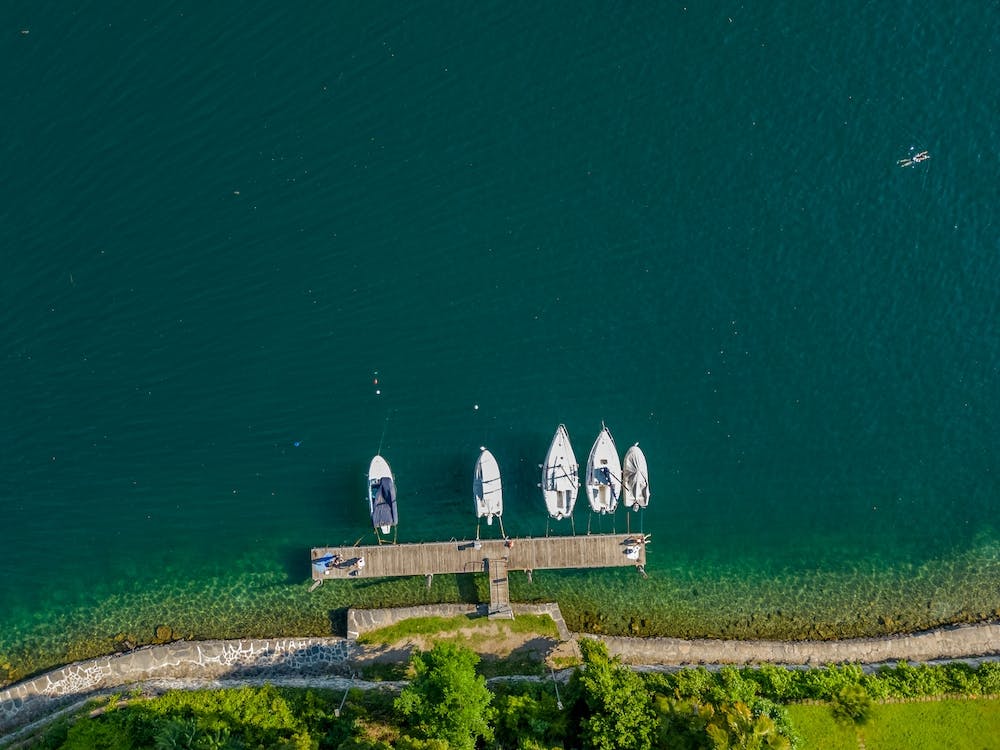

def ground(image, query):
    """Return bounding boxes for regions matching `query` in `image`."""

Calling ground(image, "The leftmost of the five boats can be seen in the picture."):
[365,456,400,537]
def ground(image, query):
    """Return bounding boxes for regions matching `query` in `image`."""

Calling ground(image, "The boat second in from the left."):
[473,444,501,525]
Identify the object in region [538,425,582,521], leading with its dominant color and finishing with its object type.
white boat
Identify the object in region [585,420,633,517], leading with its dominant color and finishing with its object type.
white boat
